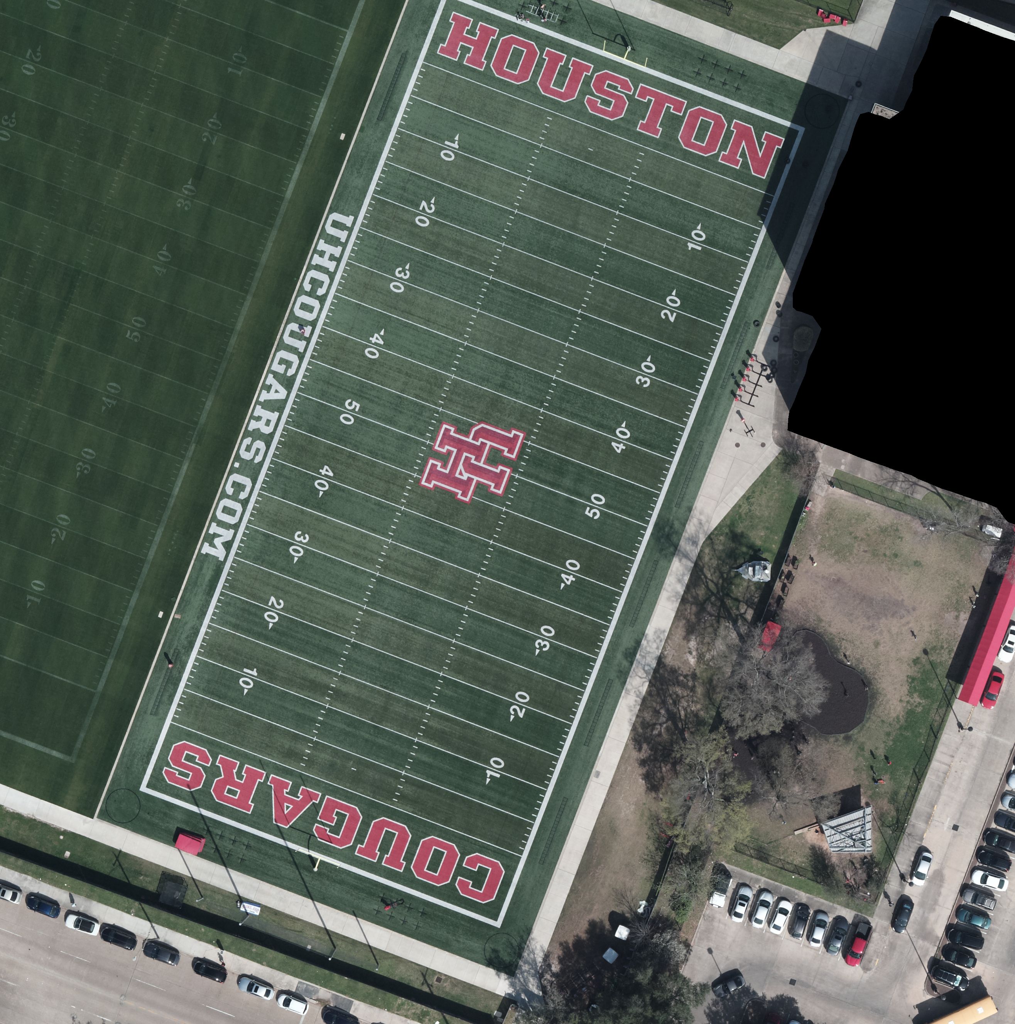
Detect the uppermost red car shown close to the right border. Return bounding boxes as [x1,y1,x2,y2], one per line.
[983,671,1005,710]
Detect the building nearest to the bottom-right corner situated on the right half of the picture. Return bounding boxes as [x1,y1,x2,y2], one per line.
[821,805,873,853]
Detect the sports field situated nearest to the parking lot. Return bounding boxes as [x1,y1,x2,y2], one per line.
[96,0,850,977]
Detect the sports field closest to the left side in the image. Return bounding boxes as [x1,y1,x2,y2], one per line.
[0,0,405,816]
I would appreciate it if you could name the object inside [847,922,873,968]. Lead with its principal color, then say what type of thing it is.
red truck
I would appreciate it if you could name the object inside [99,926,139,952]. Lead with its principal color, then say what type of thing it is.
black car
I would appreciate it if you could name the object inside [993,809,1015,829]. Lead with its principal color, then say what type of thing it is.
black car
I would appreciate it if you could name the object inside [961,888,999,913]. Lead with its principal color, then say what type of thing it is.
gray truck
